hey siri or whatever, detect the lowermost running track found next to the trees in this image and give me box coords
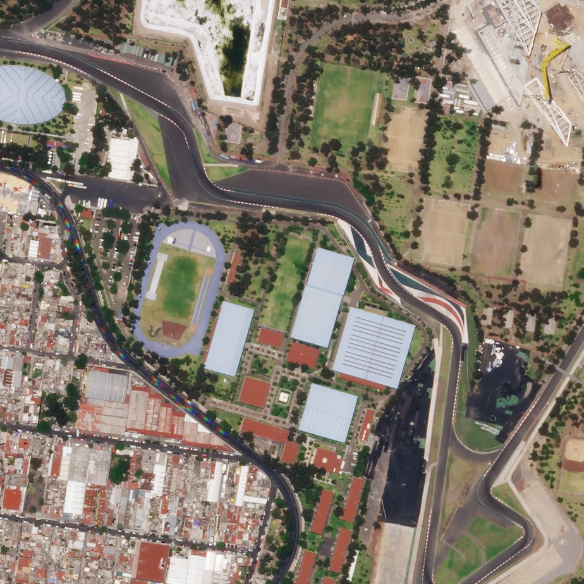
[134,220,225,359]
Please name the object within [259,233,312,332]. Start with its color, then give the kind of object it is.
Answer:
green sports field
